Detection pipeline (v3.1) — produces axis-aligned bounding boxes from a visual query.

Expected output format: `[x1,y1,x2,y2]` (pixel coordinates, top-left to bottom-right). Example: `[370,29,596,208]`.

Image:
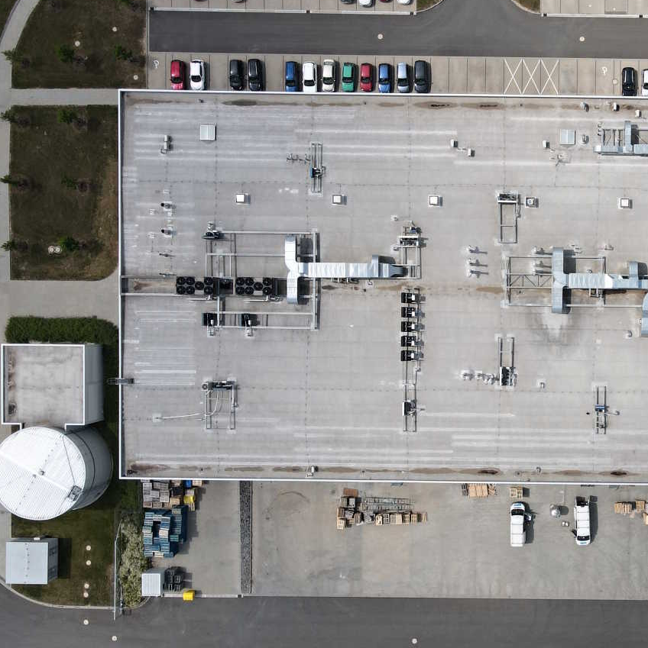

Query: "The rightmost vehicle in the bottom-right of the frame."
[572,496,591,544]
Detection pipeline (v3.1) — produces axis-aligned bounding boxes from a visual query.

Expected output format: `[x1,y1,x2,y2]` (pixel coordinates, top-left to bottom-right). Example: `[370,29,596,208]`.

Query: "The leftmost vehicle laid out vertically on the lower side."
[510,501,531,547]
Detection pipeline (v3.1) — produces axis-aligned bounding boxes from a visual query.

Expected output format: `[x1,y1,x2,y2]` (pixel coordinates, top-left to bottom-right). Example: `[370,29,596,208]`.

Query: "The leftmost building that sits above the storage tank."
[1,345,105,430]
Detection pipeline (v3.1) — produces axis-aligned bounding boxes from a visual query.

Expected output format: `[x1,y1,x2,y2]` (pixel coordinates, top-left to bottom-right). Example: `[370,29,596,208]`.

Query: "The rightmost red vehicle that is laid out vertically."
[359,63,374,93]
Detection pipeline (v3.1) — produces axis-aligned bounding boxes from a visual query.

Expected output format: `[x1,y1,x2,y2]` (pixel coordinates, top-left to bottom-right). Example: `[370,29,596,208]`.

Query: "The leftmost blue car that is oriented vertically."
[284,61,300,93]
